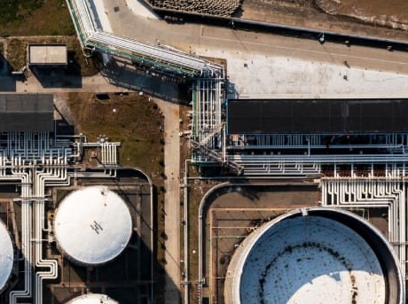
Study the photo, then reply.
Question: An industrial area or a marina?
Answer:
industrial area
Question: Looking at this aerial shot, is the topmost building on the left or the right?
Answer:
left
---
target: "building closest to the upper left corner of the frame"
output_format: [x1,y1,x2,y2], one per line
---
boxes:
[28,43,68,70]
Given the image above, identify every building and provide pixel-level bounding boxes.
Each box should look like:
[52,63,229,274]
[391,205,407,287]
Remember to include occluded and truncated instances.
[28,43,68,70]
[222,98,408,138]
[0,93,55,135]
